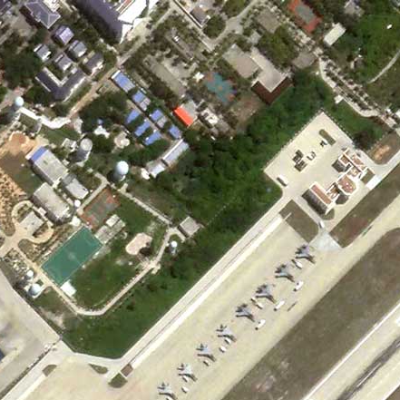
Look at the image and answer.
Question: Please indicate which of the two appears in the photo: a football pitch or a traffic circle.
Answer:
football pitch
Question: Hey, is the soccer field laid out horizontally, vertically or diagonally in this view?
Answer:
diagonally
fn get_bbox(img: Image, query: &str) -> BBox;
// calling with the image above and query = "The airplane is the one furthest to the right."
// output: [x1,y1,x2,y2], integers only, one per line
[297,246,314,262]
